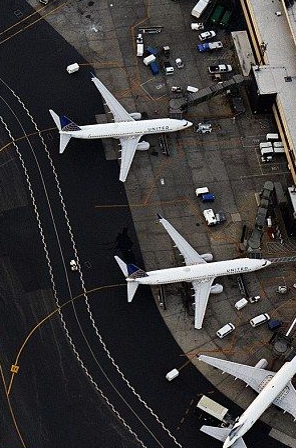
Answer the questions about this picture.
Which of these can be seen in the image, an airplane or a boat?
airplane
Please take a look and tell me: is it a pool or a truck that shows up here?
truck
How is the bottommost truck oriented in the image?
at an angle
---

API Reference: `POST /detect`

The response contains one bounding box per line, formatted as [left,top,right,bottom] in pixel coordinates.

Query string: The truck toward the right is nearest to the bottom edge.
[197,392,233,425]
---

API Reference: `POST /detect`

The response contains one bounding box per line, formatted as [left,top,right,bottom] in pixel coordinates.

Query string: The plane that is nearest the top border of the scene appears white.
[50,72,195,183]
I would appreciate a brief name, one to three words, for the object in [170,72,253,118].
jet bridge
